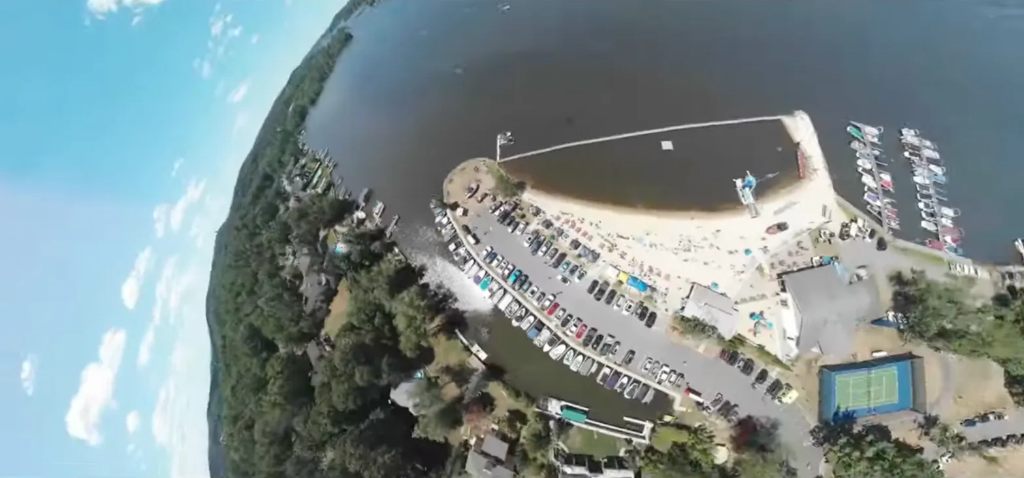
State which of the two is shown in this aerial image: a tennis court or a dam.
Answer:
tennis court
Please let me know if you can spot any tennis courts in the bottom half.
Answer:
Yes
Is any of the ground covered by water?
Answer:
Yes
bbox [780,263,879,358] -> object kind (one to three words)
building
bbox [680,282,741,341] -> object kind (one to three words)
building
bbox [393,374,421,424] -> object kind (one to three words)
house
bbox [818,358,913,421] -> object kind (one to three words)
tennis court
